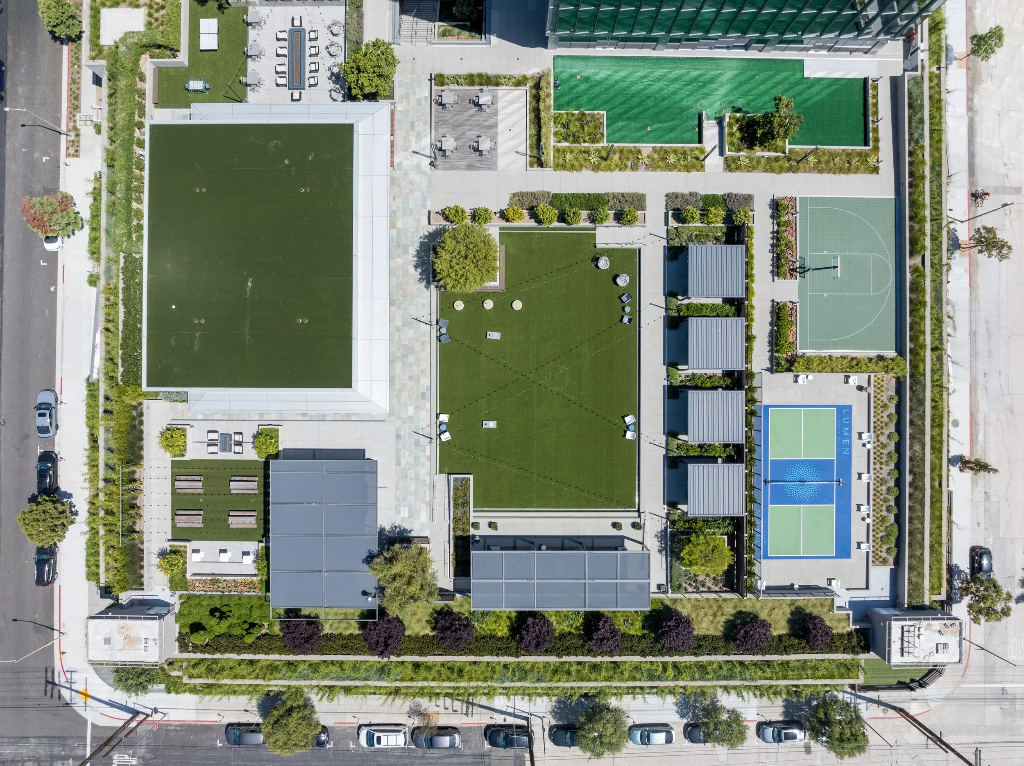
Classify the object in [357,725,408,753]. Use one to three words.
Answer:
car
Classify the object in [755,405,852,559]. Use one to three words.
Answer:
sports court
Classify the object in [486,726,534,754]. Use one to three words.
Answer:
car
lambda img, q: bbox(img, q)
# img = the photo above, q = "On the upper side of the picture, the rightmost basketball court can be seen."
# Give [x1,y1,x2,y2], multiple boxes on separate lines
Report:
[799,196,896,353]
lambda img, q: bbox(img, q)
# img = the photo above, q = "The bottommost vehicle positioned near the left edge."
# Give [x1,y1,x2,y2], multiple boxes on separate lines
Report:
[28,548,57,592]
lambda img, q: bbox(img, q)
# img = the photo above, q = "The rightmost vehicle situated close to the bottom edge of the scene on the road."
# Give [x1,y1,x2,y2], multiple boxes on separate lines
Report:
[761,721,810,749]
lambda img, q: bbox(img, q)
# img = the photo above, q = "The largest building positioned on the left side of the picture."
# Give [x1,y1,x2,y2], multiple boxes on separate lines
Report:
[144,103,391,412]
